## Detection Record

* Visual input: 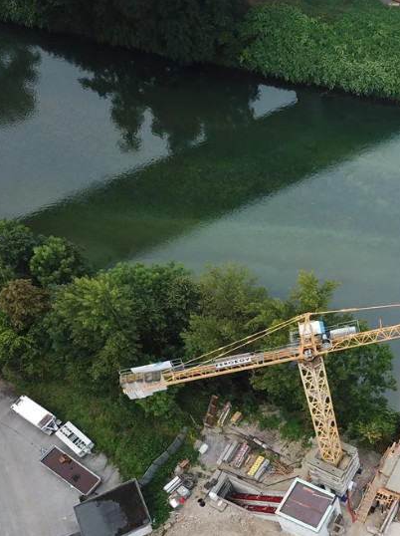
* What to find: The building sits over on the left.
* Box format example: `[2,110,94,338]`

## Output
[73,479,161,536]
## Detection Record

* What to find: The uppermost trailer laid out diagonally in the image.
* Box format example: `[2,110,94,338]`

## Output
[7,391,60,431]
